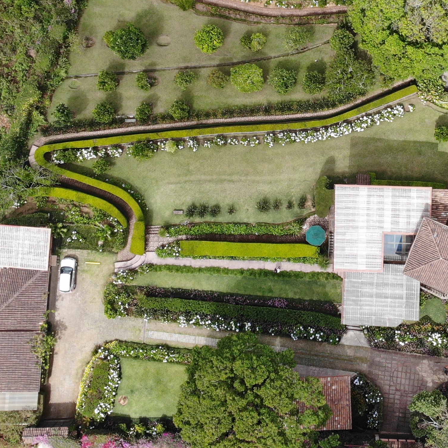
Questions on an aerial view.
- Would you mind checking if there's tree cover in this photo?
Yes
